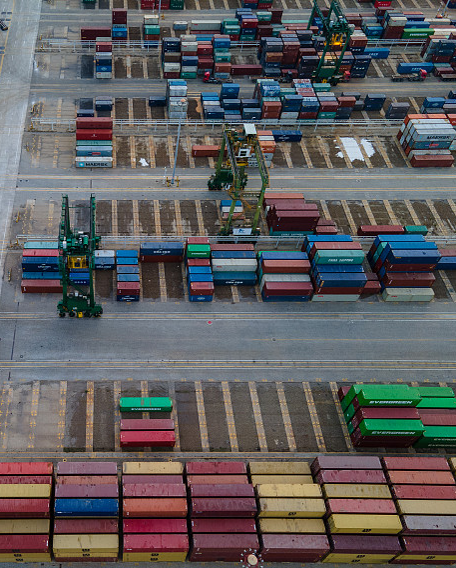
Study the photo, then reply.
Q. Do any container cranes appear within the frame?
Yes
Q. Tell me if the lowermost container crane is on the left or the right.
left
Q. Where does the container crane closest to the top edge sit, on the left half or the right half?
right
